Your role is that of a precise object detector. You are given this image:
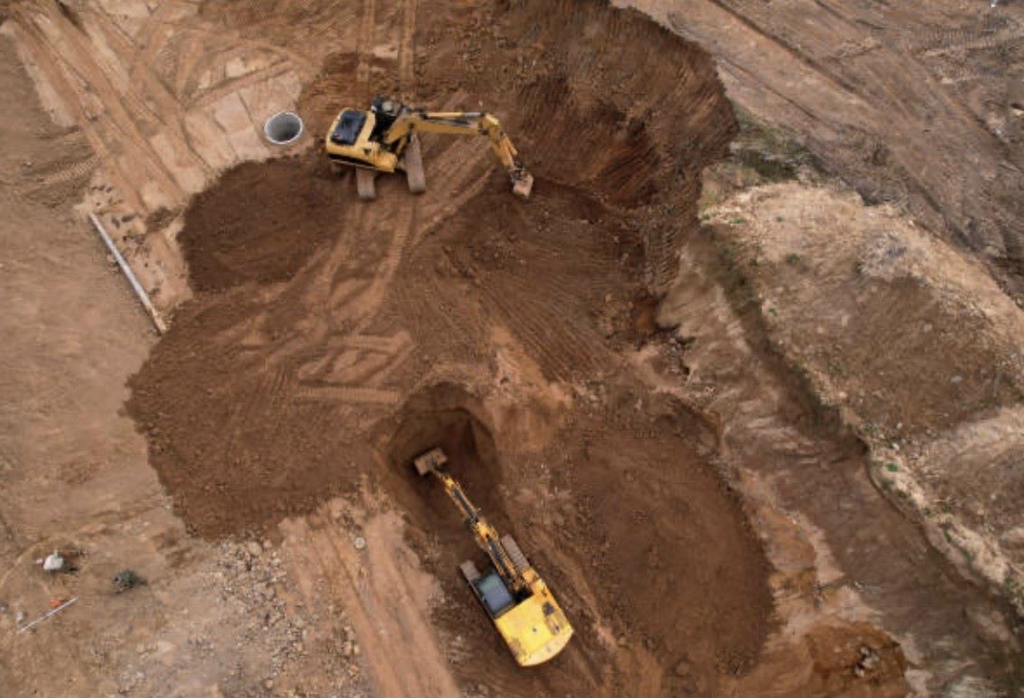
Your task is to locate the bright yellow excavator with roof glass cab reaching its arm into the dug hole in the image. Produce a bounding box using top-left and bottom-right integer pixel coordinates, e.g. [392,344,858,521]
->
[418,454,578,668]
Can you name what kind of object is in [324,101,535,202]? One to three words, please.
work vehicle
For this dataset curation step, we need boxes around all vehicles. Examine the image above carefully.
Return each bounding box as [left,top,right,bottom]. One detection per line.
[324,101,535,202]
[418,454,578,668]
